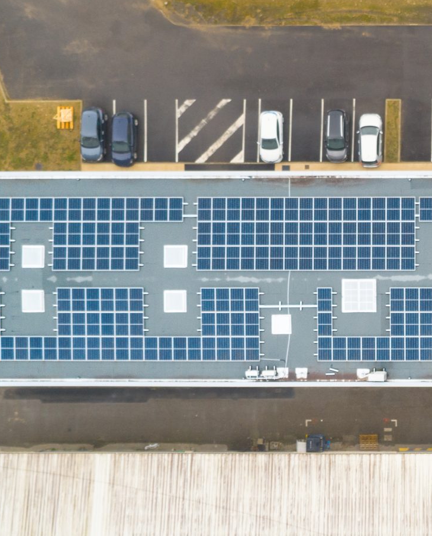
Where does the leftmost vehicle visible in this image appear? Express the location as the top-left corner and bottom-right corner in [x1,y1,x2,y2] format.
[77,106,109,162]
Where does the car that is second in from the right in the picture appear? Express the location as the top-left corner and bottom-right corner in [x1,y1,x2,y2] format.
[322,108,350,164]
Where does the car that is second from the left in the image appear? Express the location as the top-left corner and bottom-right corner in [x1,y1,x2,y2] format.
[107,110,140,169]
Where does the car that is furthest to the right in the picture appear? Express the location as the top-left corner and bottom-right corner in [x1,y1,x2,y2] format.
[355,112,382,168]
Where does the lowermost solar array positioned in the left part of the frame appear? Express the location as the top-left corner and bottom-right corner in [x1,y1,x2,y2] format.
[0,288,265,361]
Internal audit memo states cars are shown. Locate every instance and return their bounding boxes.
[355,112,382,168]
[77,106,109,162]
[257,110,285,163]
[107,110,140,169]
[322,108,350,164]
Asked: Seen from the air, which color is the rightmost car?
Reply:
white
